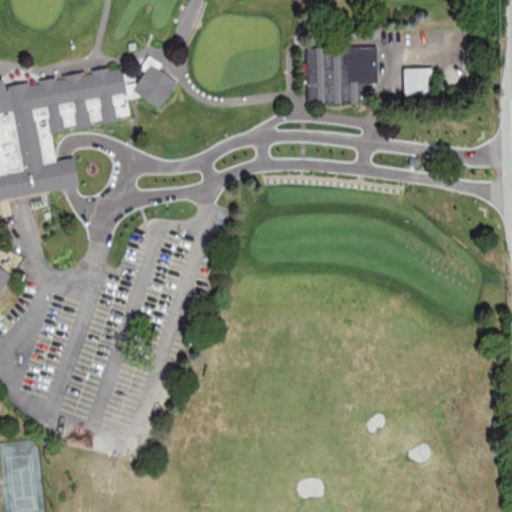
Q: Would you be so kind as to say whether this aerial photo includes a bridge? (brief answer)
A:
No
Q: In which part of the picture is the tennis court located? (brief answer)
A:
bottom left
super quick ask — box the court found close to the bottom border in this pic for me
[0,441,45,512]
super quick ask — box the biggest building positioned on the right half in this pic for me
[304,48,378,104]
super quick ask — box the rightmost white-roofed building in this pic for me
[404,66,433,96]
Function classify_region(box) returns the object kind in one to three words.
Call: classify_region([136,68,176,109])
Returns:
building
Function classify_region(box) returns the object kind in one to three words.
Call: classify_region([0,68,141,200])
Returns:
building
